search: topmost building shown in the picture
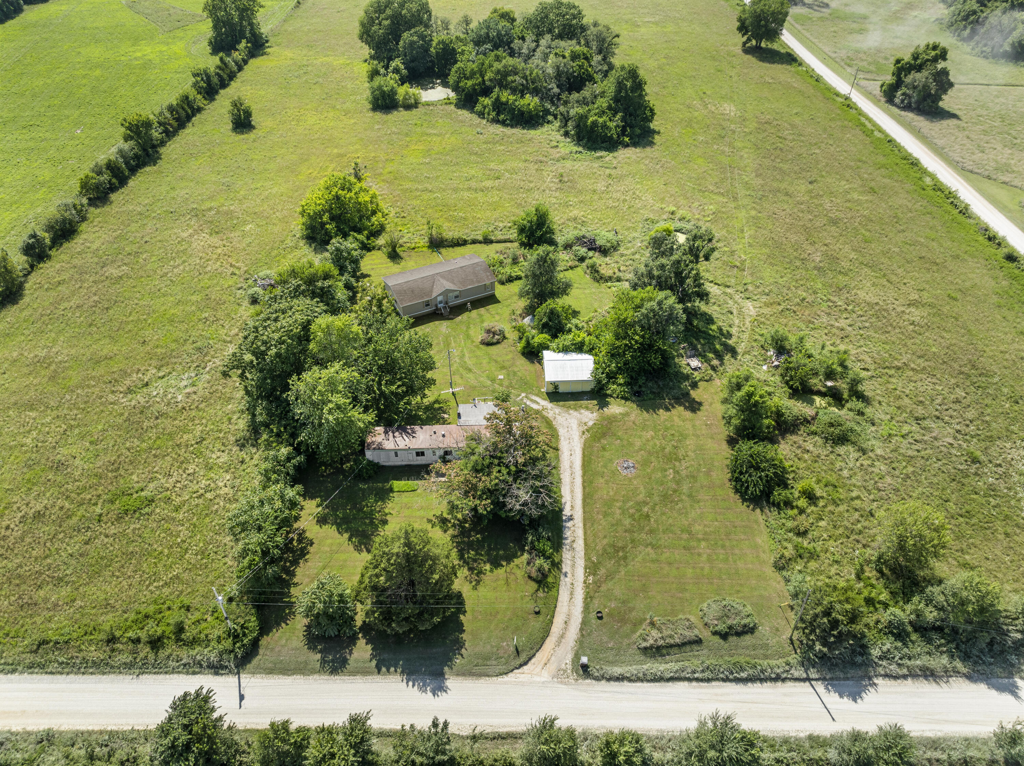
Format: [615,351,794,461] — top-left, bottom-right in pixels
[385,254,496,318]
